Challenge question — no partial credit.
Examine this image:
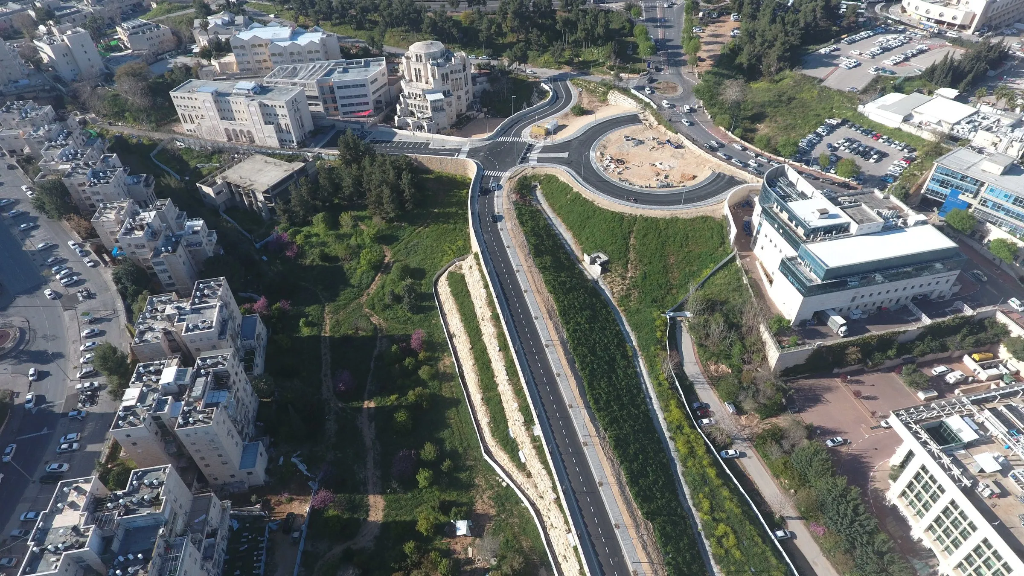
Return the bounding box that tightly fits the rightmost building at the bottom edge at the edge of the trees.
[877,383,1024,576]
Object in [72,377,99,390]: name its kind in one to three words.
vehicle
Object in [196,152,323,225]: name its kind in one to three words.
building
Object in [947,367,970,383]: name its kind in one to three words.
camper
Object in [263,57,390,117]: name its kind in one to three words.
building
